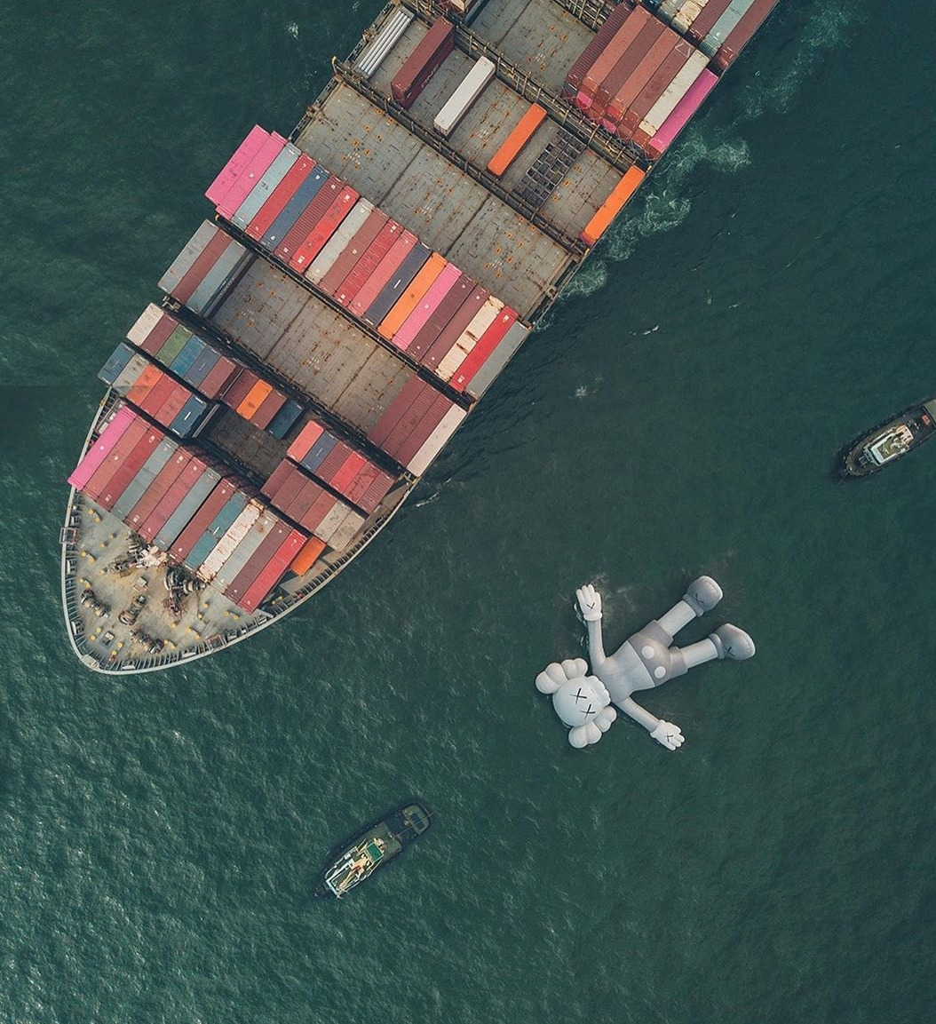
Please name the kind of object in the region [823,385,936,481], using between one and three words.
boat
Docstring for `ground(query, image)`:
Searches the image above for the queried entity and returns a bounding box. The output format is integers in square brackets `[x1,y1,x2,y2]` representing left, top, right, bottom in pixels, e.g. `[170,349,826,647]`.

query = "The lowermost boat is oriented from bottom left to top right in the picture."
[311,799,436,903]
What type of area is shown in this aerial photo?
port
